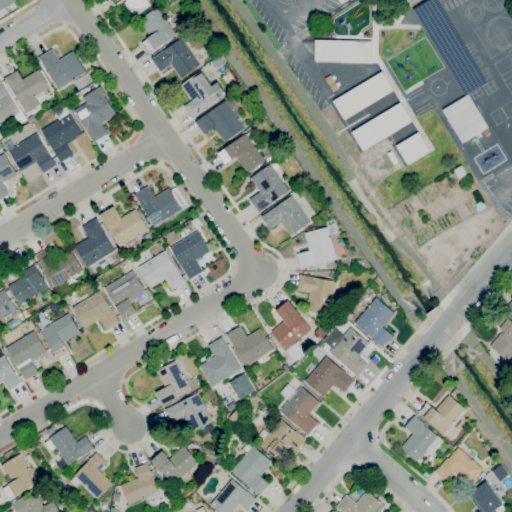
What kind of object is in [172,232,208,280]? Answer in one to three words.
house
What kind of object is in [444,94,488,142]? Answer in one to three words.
building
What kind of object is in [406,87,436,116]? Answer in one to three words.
sports court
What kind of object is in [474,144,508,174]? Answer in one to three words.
playground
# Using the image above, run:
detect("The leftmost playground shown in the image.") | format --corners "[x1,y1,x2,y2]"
[336,4,370,34]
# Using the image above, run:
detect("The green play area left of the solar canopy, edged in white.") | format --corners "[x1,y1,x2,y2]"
[388,38,444,90]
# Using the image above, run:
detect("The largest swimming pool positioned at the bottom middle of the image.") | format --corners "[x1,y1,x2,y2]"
[203,477,218,495]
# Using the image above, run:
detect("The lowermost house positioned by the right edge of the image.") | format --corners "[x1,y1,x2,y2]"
[472,482,508,512]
